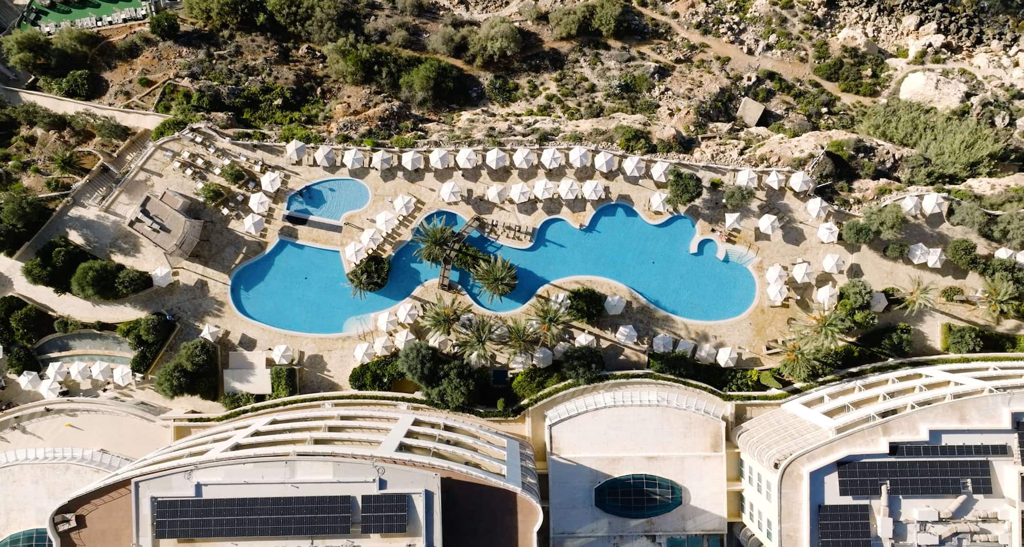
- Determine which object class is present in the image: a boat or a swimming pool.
swimming pool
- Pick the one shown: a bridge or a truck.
bridge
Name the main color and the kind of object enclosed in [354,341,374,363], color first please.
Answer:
white umbrella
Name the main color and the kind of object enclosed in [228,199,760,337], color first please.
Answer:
blue swimming pool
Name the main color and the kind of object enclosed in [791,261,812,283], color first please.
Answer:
white umbrella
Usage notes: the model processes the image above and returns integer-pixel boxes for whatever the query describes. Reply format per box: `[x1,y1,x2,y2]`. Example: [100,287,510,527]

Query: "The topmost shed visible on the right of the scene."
[734,96,766,128]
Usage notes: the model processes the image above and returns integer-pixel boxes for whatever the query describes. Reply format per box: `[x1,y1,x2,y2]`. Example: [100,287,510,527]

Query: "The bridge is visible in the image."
[438,217,484,293]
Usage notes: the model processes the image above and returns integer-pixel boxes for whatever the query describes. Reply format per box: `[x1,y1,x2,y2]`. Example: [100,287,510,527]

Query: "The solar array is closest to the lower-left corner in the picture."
[156,493,351,538]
